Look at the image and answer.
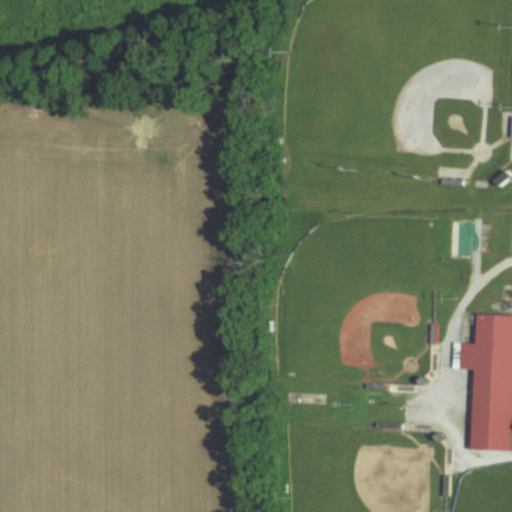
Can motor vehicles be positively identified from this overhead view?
No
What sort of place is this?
sports ground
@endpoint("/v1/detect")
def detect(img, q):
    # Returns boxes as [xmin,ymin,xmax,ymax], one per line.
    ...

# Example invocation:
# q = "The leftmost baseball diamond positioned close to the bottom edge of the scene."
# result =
[288,418,444,512]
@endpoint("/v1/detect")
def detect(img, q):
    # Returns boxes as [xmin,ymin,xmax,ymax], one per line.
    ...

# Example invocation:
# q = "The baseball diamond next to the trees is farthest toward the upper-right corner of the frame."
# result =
[284,0,512,180]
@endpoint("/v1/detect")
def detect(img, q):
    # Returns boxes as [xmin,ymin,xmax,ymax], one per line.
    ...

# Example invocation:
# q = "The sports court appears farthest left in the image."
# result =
[452,220,479,258]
